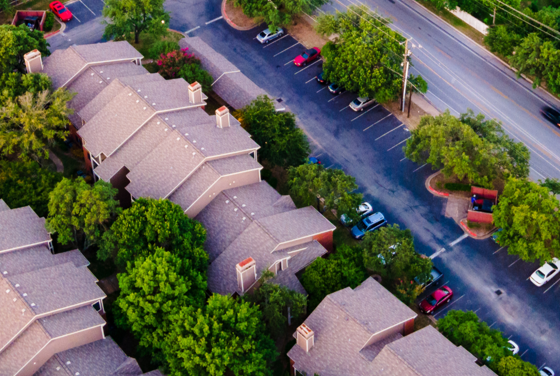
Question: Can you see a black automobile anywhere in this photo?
Yes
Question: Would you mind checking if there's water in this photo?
No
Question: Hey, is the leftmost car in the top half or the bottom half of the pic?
top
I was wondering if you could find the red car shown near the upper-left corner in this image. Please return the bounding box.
[47,0,74,21]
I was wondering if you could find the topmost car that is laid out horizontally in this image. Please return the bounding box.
[256,28,284,42]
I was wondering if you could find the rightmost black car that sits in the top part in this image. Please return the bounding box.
[541,107,560,130]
